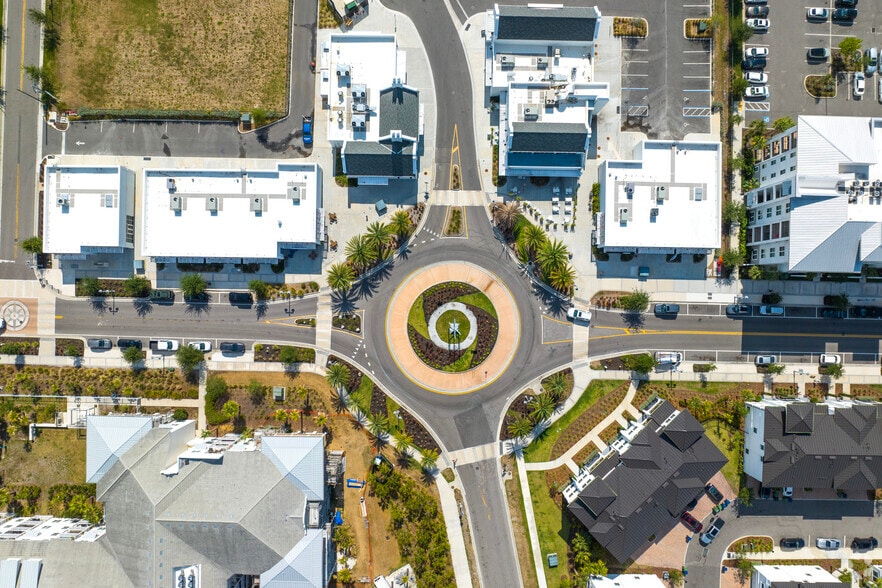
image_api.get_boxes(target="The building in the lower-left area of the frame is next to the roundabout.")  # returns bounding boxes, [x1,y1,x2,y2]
[0,405,334,588]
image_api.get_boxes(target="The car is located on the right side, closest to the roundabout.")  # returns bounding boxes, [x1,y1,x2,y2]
[566,308,591,320]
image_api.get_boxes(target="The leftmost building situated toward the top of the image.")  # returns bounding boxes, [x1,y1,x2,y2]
[42,166,136,260]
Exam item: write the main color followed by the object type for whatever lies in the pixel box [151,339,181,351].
white vehicle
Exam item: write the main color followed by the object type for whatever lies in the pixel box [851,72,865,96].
white vehicle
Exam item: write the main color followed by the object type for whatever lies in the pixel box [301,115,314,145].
blue vehicle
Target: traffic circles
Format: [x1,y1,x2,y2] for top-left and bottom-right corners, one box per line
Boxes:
[361,236,545,421]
